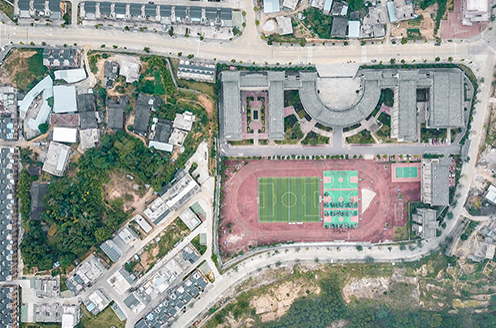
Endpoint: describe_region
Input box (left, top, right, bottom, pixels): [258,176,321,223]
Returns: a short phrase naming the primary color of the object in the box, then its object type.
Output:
green soccer field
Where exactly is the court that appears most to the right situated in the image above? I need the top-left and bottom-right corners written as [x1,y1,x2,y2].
[392,163,418,182]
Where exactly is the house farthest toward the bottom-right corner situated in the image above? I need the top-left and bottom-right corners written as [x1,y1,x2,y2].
[471,241,495,259]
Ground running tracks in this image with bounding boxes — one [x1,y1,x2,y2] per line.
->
[230,160,388,239]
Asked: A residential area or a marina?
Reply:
residential area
